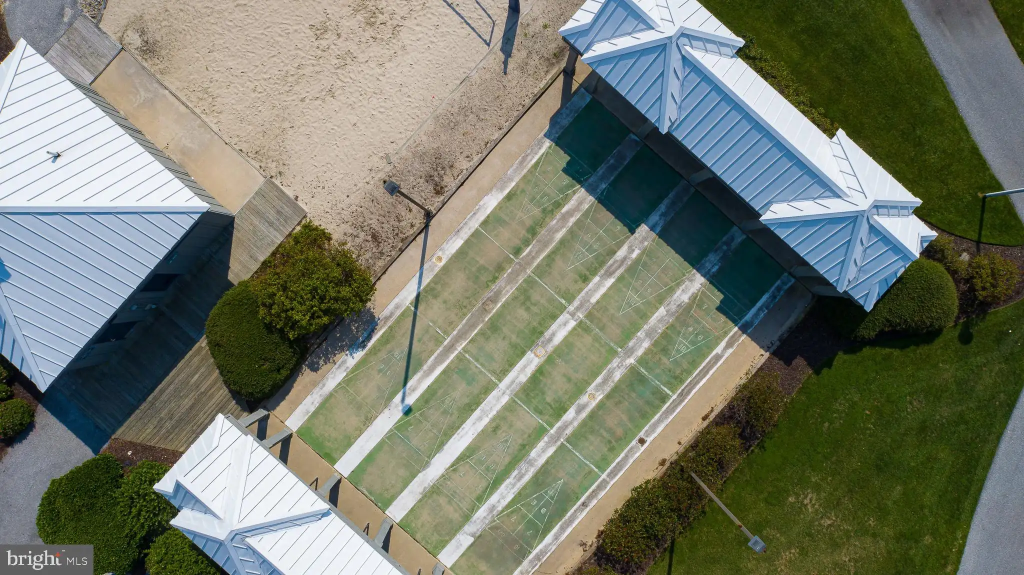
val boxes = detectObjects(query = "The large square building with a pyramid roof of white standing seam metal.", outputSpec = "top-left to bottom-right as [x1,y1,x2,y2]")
[0,40,232,391]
